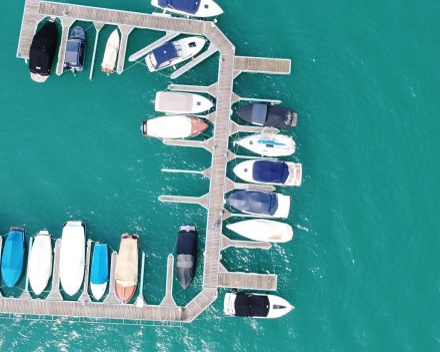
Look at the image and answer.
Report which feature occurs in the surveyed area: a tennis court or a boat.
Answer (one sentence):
The one in the frame is a boat.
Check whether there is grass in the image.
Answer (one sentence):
No, there is no grass in the image.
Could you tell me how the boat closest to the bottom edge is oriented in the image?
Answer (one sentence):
Seen from above, the boat closest to the bottom edge lies from side to side.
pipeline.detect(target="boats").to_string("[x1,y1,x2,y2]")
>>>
[102,30,120,75]
[65,26,85,74]
[235,104,296,129]
[233,134,296,156]
[60,221,86,296]
[114,233,139,304]
[30,17,59,85]
[150,92,214,114]
[223,292,295,319]
[225,217,293,241]
[1,225,26,287]
[232,159,302,186]
[175,223,196,290]
[226,190,291,219]
[145,38,208,74]
[28,230,53,296]
[141,115,208,139]
[150,0,223,18]
[91,242,110,301]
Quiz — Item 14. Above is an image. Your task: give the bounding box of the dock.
[0,0,291,326]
